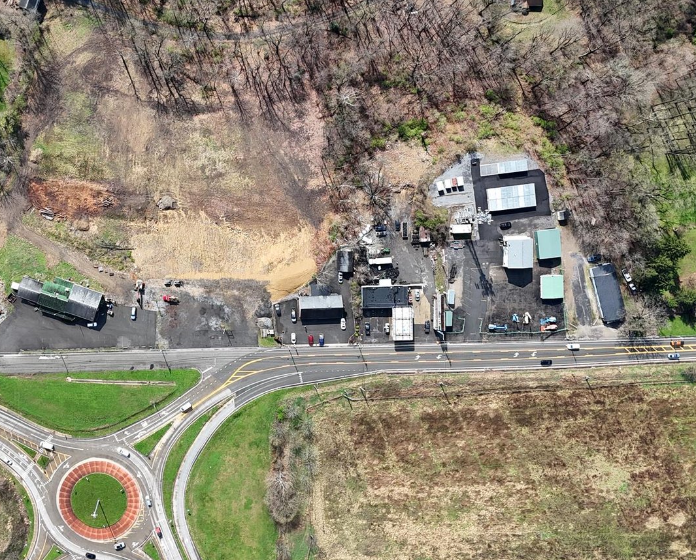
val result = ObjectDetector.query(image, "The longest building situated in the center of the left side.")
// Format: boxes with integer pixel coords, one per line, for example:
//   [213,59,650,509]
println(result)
[10,277,106,326]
